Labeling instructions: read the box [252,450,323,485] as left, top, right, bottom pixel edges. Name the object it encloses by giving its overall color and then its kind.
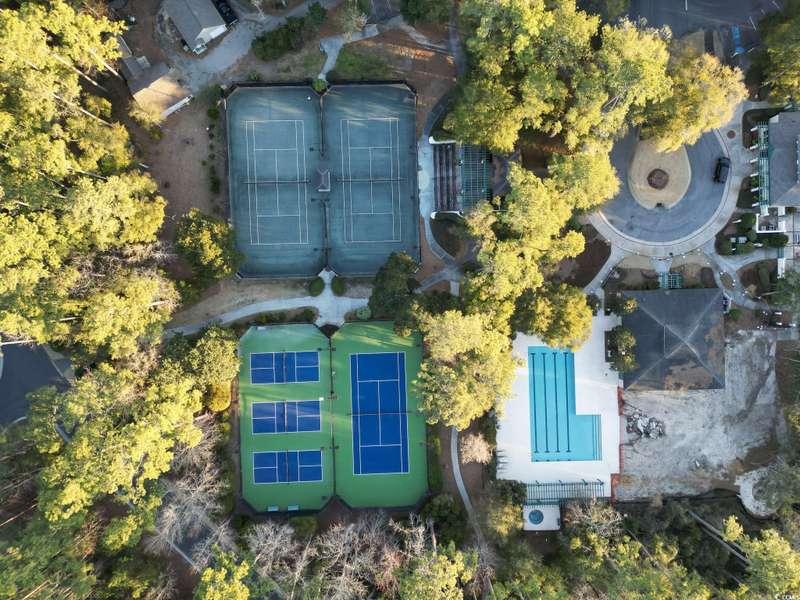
blue sports court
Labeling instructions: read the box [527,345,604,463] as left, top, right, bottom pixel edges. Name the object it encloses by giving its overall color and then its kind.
blue swimming pool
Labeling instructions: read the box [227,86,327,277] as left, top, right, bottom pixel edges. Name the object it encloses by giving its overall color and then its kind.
blue tennis court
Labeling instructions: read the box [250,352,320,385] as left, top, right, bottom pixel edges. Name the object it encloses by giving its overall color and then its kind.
blue sports court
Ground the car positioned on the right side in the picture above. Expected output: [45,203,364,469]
[712,157,730,184]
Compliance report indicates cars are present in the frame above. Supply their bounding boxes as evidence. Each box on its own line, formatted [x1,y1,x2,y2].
[215,0,239,25]
[712,157,730,184]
